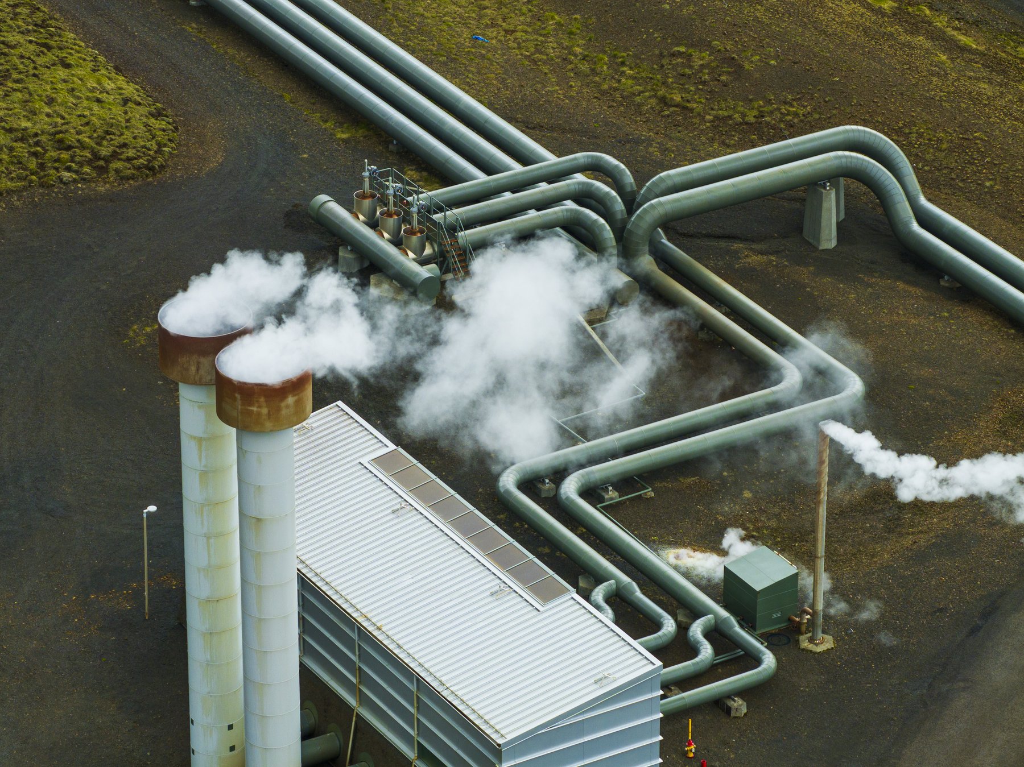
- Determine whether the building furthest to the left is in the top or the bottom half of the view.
bottom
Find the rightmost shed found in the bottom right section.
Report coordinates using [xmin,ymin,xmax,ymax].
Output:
[724,546,800,634]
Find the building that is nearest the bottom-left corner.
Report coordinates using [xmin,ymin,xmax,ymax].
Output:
[293,399,664,767]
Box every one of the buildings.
[293,399,664,767]
[724,546,800,634]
